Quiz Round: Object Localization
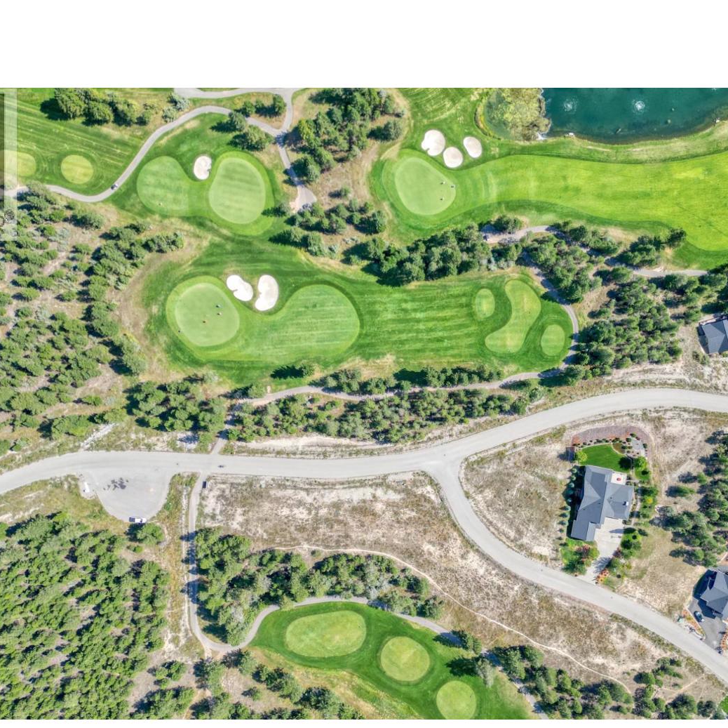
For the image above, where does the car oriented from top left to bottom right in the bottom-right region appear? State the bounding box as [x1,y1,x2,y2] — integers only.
[694,608,706,625]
